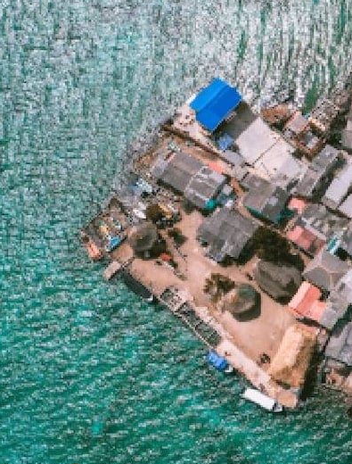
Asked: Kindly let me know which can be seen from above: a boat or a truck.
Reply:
boat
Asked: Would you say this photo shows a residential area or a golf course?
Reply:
residential area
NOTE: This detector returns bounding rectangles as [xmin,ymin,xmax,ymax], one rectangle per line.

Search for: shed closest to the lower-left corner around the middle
[130,223,161,252]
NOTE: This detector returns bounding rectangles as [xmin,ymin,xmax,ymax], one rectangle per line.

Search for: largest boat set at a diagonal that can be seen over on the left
[120,267,154,299]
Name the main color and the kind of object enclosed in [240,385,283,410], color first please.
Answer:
white boat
